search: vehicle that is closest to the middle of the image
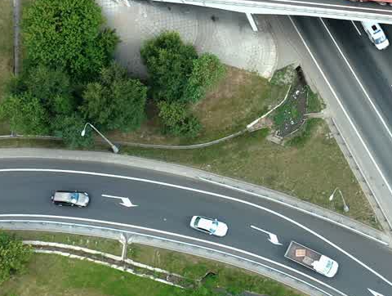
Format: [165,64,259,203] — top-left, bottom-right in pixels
[188,214,230,237]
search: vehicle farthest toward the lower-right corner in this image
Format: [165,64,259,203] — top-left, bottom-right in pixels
[284,240,341,278]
